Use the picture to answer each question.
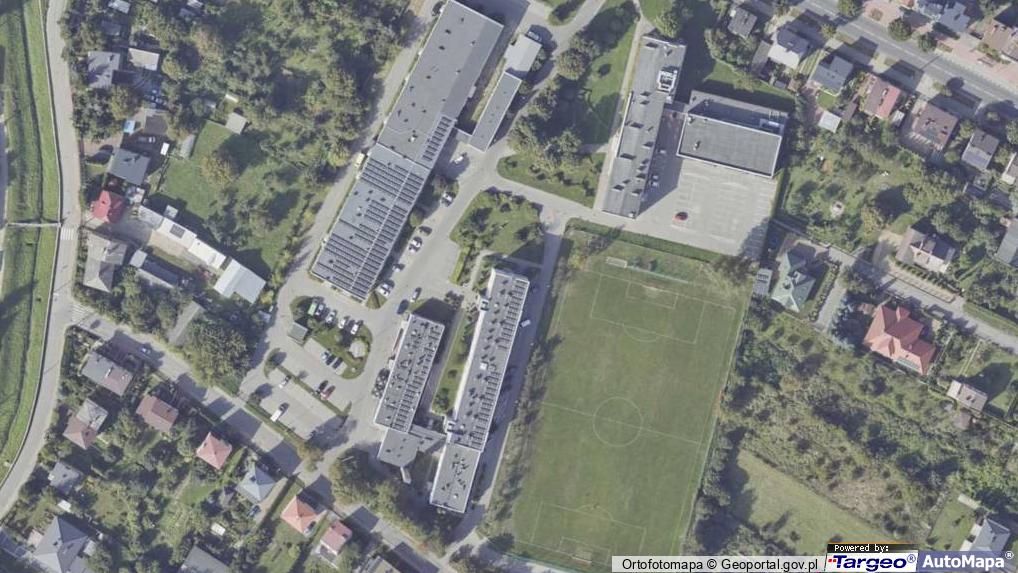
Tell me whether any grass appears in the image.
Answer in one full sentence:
Yes, the picture does contain grass.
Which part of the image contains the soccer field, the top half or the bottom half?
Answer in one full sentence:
Seen from above, the soccer field lies in the bottom half of the view.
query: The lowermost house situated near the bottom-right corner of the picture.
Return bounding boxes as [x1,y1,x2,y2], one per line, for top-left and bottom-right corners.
[967,518,1011,563]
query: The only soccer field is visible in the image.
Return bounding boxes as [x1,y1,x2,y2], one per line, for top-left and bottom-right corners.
[487,222,760,573]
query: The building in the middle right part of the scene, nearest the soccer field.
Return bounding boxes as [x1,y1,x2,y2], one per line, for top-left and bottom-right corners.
[754,269,772,295]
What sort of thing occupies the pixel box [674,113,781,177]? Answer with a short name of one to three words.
building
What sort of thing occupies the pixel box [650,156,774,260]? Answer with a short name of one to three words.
sports court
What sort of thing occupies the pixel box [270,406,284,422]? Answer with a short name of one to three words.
vehicle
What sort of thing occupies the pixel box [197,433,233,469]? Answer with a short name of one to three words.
house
